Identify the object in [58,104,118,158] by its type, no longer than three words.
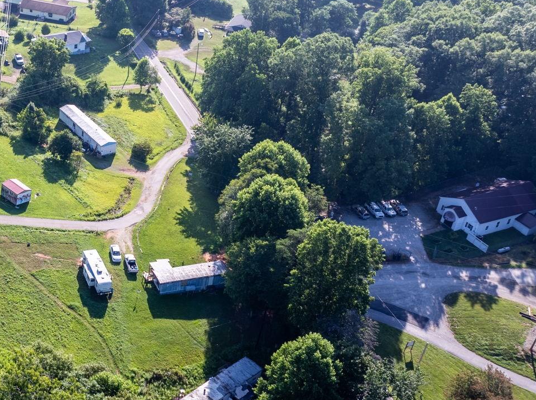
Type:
house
